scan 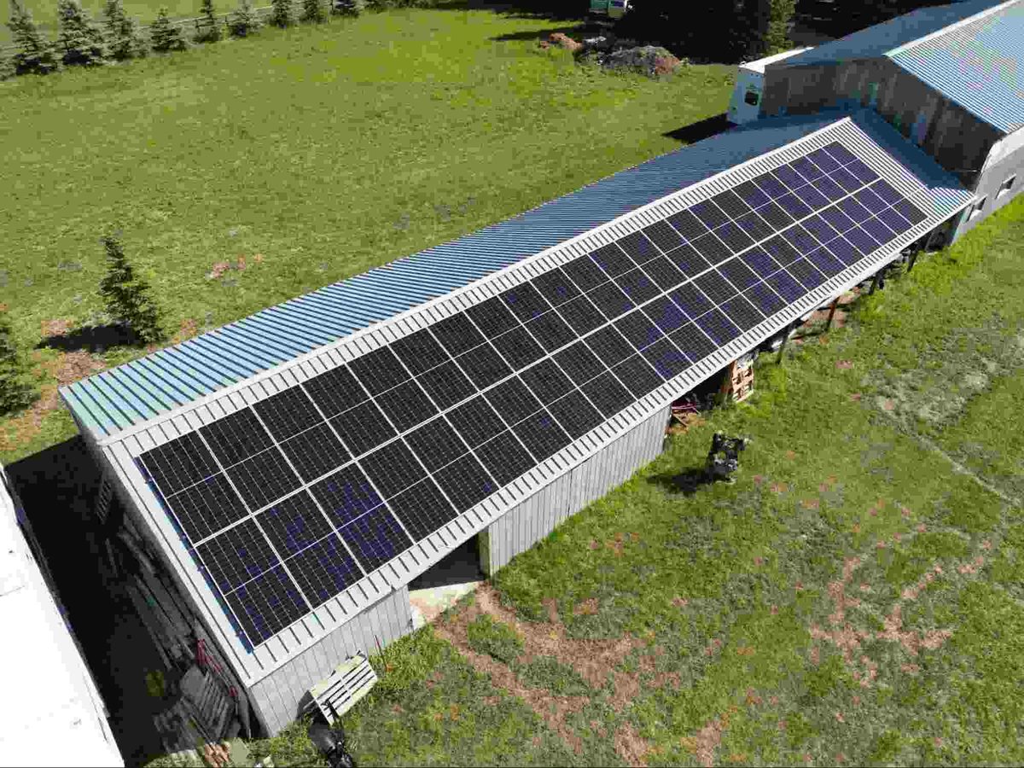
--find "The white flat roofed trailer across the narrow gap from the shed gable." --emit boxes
[0,483,130,768]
